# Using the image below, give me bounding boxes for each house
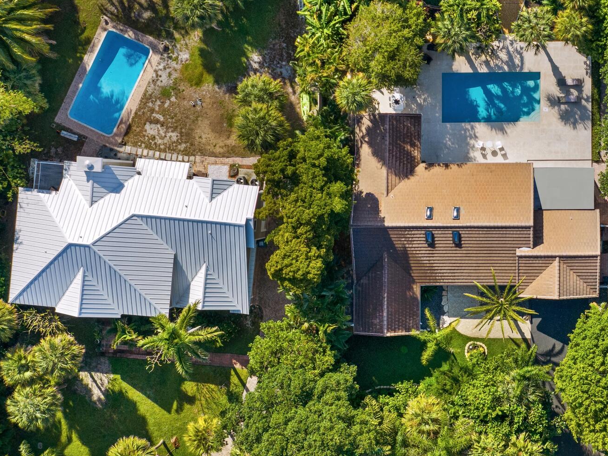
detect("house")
[351,114,601,337]
[8,155,267,318]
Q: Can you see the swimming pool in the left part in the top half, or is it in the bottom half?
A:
top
